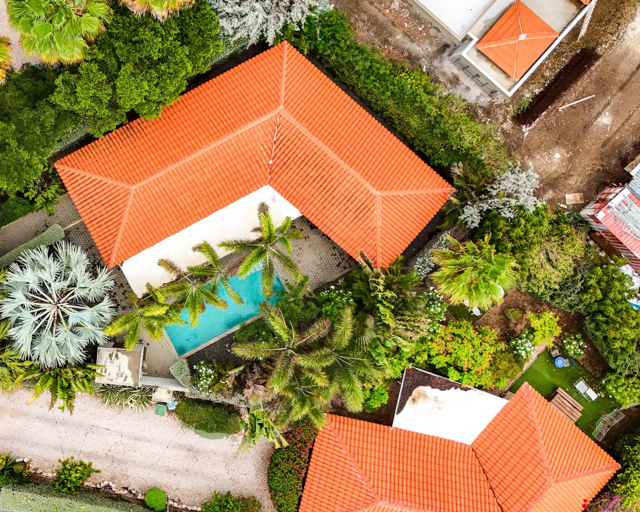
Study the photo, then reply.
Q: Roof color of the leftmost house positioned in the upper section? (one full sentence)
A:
From above, the roof of the leftmost house positioned in the upper section looks orange.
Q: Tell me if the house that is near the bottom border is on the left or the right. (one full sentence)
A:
You can find the house that is near the bottom border on the right side of the picture.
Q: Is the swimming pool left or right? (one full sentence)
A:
The swimming pool appears in the left half of the scene.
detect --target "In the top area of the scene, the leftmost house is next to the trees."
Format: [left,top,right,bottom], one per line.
[53,39,454,296]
